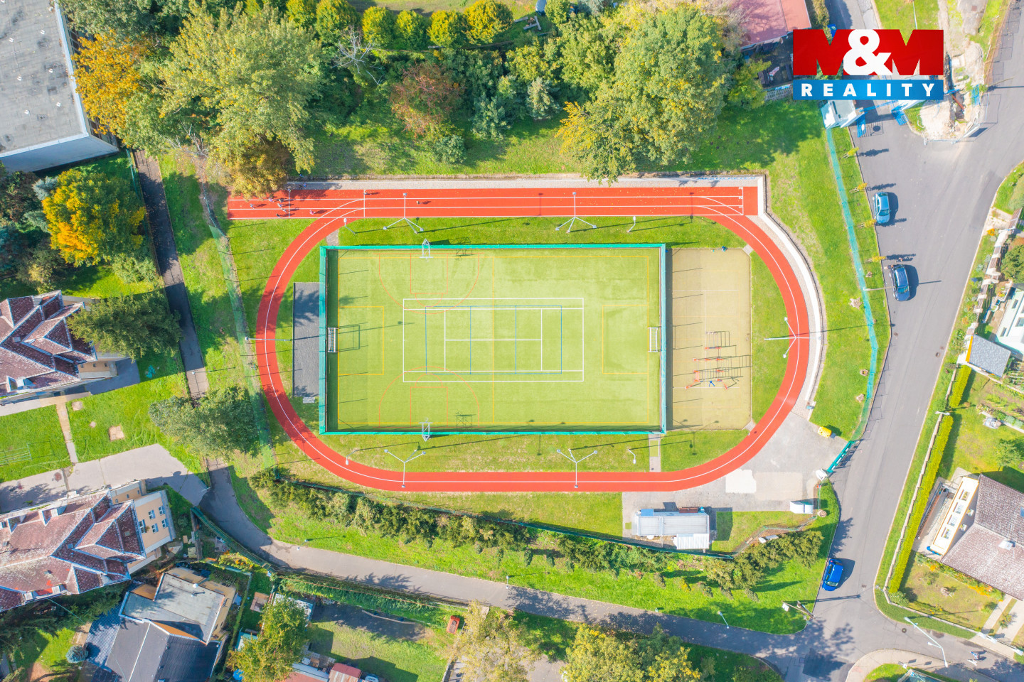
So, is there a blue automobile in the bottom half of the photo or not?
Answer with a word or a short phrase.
Yes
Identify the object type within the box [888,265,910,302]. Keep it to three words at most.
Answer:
car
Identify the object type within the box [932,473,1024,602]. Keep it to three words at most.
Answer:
house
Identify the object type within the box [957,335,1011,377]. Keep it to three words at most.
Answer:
building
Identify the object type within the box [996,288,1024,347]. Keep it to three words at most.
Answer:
house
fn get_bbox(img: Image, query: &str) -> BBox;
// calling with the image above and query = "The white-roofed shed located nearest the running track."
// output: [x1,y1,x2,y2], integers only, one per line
[632,509,709,537]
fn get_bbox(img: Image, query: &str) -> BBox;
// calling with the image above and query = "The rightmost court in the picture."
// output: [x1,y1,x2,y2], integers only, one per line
[667,248,752,430]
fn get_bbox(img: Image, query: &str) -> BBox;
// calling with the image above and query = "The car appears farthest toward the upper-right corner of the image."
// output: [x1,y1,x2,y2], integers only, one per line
[872,191,891,225]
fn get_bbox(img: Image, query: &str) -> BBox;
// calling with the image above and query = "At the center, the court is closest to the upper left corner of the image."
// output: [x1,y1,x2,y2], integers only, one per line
[327,248,661,431]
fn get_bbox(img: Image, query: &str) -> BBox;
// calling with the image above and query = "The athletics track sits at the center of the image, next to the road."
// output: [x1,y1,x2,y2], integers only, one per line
[227,186,809,492]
